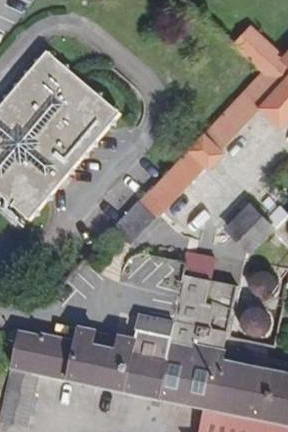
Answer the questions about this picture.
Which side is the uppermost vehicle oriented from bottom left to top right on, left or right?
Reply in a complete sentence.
The uppermost vehicle oriented from bottom left to top right sits on the right side.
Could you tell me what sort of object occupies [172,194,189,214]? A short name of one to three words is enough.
car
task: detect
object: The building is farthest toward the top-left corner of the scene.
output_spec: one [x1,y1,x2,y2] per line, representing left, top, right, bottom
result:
[0,51,125,223]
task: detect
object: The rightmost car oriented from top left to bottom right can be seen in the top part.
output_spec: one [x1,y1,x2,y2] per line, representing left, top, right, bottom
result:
[140,157,158,176]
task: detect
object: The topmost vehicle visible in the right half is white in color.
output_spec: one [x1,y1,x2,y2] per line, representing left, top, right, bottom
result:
[228,136,248,156]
